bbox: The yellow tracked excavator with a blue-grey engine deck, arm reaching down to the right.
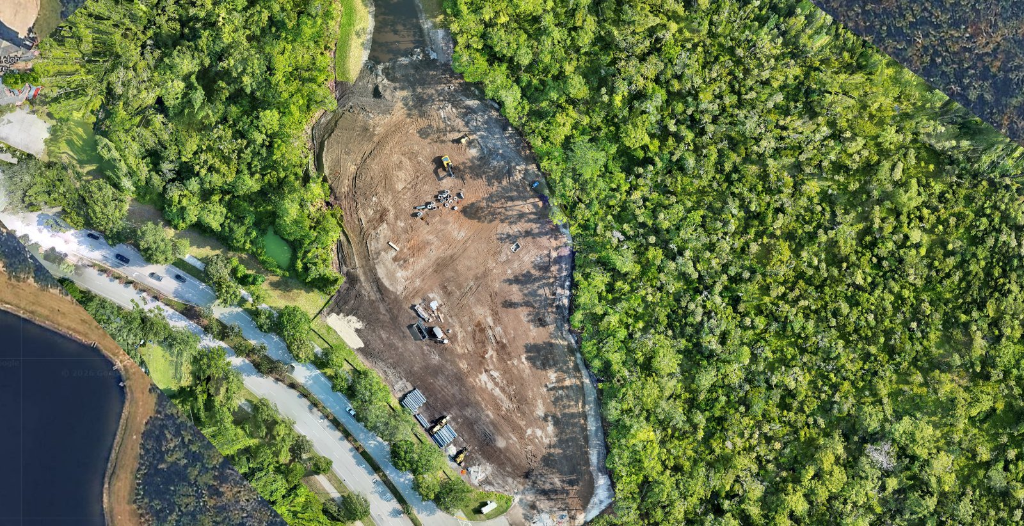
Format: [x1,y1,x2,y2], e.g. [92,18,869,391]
[441,155,457,180]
